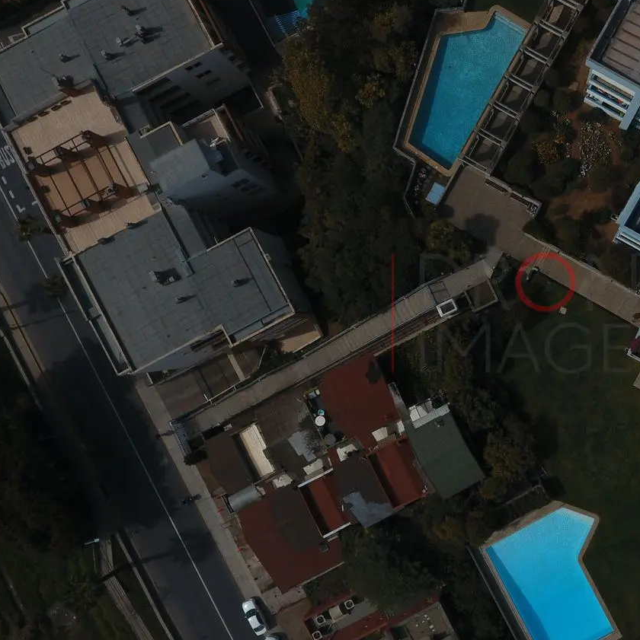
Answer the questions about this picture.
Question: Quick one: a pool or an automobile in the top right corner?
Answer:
pool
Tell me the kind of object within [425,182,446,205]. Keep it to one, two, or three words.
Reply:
solar panel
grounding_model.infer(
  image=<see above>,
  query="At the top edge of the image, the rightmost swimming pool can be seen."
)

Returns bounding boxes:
[397,5,533,176]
